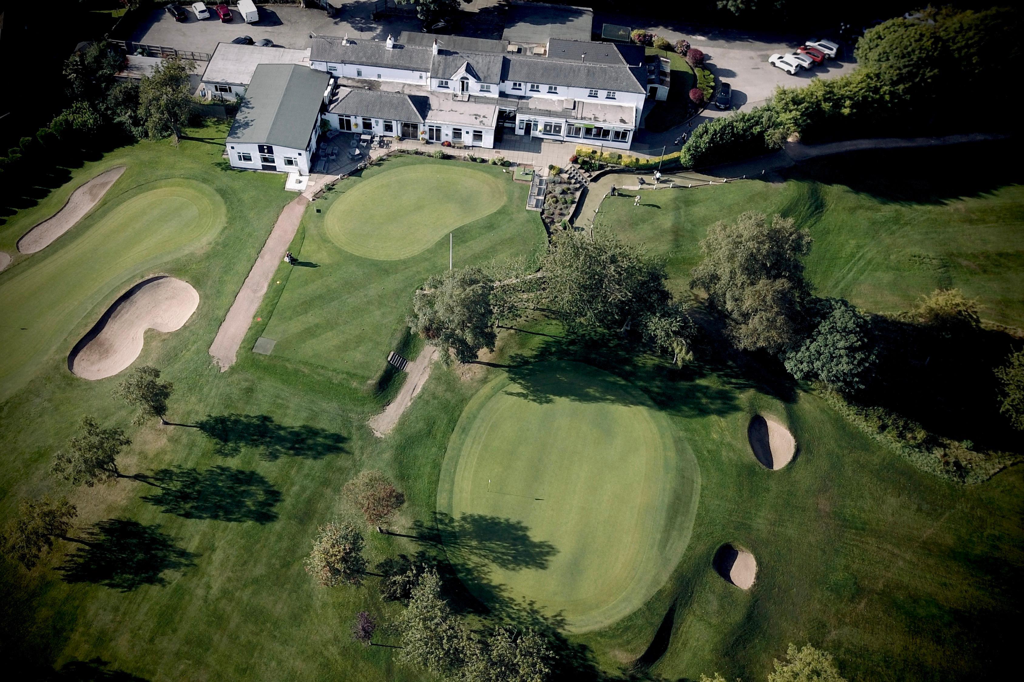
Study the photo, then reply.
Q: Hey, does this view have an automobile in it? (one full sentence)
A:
Yes, an automobile appears in the view.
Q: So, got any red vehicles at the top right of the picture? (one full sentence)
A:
Yes, a red vehicle is visible at the top right of the picture.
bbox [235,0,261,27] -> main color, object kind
white vehicle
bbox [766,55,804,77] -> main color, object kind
white car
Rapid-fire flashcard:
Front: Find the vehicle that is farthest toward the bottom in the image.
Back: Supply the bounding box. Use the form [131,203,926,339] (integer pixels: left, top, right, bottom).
[714,80,733,109]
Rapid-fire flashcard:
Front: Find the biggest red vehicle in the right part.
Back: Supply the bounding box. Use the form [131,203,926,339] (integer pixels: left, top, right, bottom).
[793,46,828,66]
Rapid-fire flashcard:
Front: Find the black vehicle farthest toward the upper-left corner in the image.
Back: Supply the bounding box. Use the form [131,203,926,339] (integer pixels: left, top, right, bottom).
[164,3,190,25]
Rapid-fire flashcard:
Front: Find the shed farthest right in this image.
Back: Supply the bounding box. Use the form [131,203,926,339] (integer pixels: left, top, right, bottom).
[646,41,671,98]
